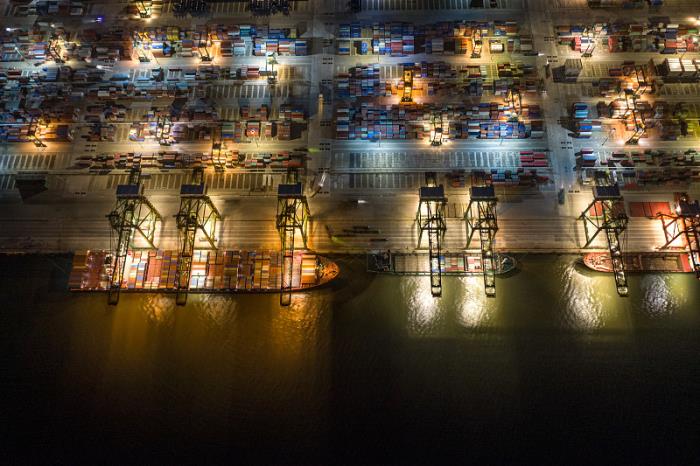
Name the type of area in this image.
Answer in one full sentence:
This looks like a port.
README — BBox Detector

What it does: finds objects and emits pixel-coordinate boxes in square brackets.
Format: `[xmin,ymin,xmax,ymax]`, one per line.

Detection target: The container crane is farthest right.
[653,168,700,286]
